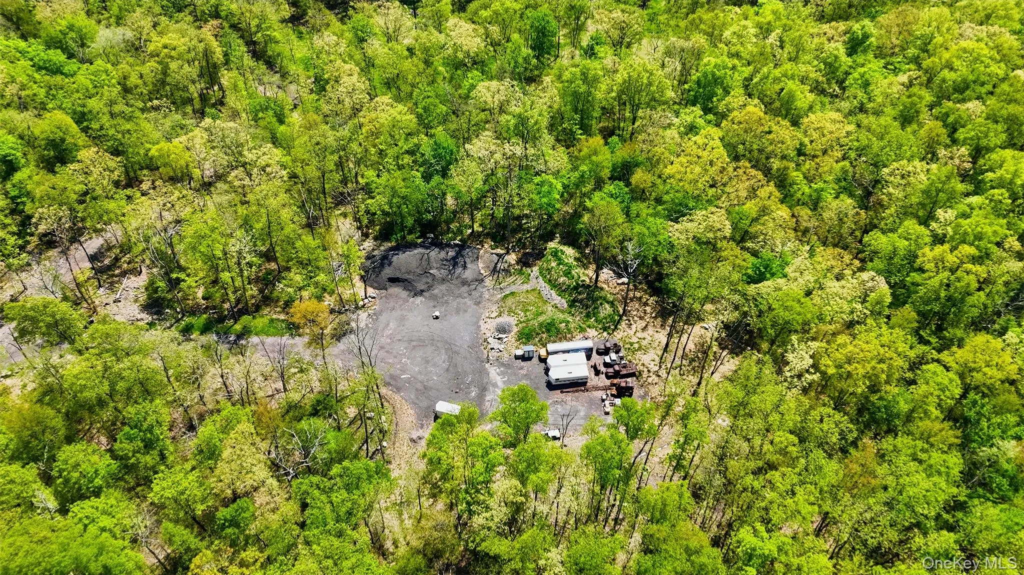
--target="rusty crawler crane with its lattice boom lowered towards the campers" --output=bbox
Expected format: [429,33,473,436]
[559,377,636,397]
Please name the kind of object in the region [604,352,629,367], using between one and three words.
vehicle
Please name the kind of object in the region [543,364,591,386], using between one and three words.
trailer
